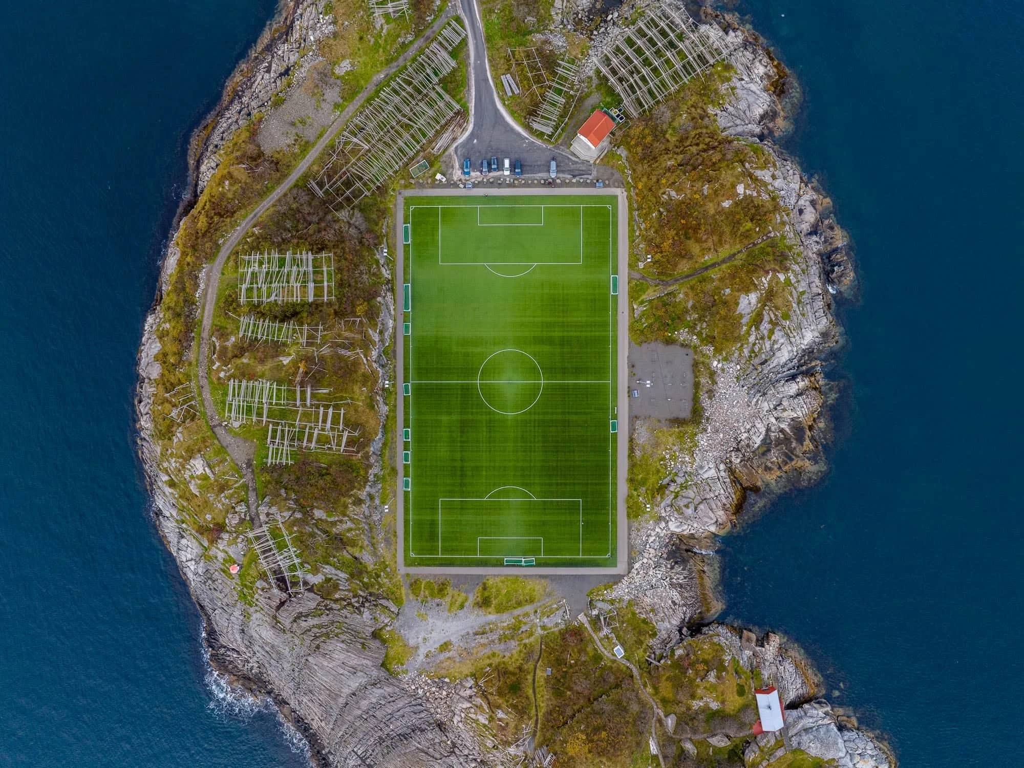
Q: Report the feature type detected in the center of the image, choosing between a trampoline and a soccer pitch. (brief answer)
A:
soccer pitch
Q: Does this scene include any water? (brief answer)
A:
Yes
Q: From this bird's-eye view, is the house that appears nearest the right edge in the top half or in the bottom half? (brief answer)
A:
bottom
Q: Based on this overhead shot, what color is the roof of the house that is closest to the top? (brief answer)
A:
red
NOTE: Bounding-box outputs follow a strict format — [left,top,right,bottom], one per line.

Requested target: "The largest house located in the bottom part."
[752,685,783,730]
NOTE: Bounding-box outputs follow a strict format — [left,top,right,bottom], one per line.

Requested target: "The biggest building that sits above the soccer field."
[576,110,616,151]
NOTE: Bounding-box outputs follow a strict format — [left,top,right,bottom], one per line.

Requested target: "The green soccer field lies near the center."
[404,196,618,567]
